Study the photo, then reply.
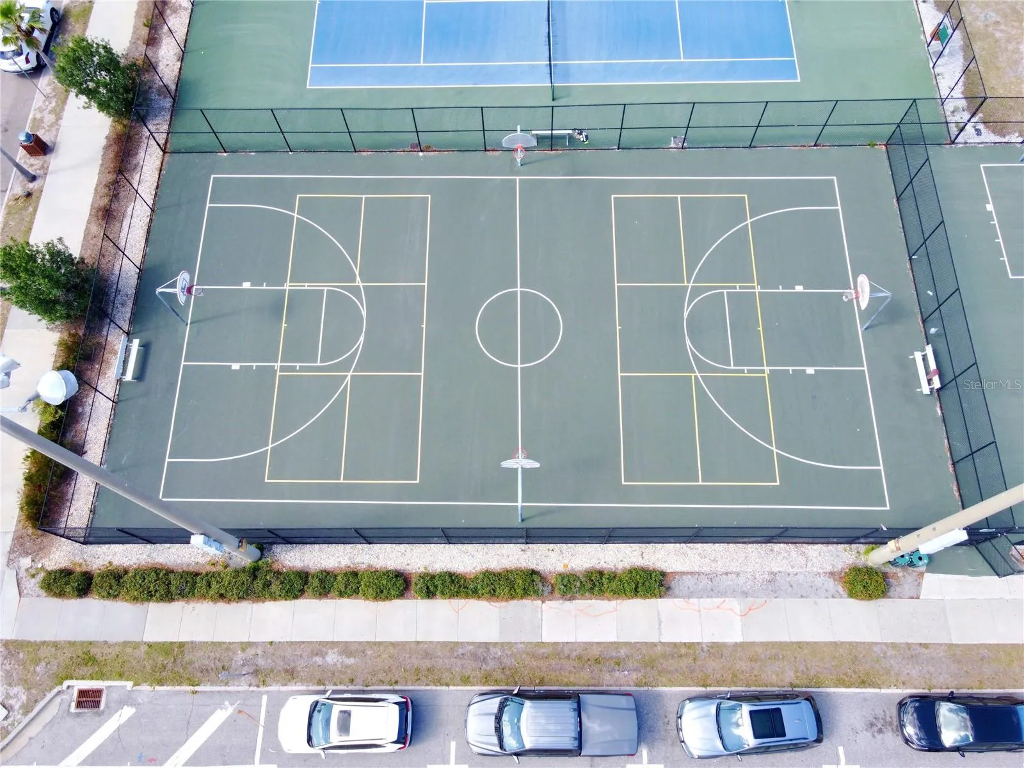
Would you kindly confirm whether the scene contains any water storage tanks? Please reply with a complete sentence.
No, there appears to be no water storage tank in this shot.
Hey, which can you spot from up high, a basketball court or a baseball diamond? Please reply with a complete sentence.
This aerial view contains a basketball court.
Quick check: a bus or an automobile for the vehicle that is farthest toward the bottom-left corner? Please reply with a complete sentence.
It looks like the vehicle that is farthest toward the bottom-left corner is an automobile.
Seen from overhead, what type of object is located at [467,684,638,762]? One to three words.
truck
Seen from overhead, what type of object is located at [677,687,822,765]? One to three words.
car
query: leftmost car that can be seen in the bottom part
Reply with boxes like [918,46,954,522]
[279,686,414,763]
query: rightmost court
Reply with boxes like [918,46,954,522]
[889,142,1024,542]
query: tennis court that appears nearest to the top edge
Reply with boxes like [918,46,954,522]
[166,0,950,153]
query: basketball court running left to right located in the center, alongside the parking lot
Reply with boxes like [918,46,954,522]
[91,145,971,541]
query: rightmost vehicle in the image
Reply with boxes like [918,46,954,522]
[892,688,1024,763]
